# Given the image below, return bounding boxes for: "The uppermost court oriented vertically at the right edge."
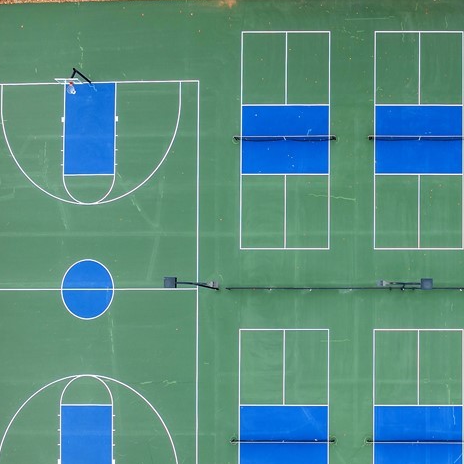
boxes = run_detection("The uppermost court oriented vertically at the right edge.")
[374,31,464,249]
